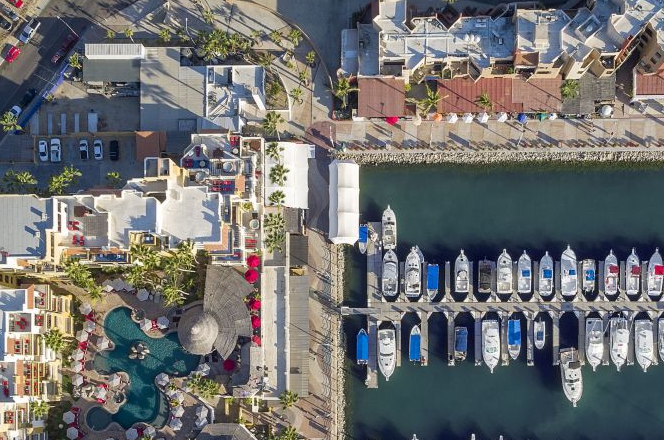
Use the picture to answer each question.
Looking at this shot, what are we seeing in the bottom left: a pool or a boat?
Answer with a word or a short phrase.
pool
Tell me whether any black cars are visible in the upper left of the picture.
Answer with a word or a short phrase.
Yes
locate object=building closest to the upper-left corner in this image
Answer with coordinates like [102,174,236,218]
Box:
[84,44,145,97]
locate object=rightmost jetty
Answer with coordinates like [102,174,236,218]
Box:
[367,222,664,388]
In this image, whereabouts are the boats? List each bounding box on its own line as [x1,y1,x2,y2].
[507,316,521,360]
[454,323,468,360]
[538,250,555,297]
[355,329,368,367]
[453,249,470,294]
[517,250,532,295]
[409,326,422,364]
[558,348,589,407]
[427,261,439,300]
[603,249,620,296]
[404,244,423,298]
[624,247,646,295]
[381,205,397,250]
[381,247,398,297]
[608,317,633,371]
[633,319,659,371]
[376,323,396,380]
[532,314,546,349]
[495,248,515,295]
[645,247,664,297]
[480,320,501,372]
[478,260,492,297]
[358,221,368,253]
[581,259,597,295]
[584,319,609,370]
[559,244,578,297]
